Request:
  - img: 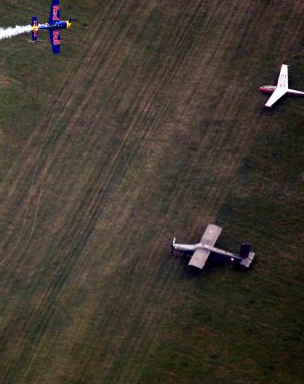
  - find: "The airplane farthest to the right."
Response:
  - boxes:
[260,66,304,105]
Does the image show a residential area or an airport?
airport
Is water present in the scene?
No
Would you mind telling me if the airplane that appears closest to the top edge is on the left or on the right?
left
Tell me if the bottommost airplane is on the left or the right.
right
